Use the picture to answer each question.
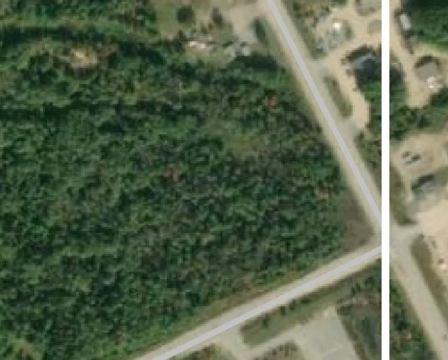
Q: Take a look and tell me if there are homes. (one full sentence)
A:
Yes, there's a home down there.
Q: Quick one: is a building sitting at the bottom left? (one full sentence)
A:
No, no building appears at the bottom left.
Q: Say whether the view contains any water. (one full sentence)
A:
No, no water is visible.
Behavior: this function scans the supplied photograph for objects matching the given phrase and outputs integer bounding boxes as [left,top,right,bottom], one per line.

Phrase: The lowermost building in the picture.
[407,175,444,202]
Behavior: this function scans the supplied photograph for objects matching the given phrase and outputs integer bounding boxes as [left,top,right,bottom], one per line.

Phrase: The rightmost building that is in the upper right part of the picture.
[413,57,442,81]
